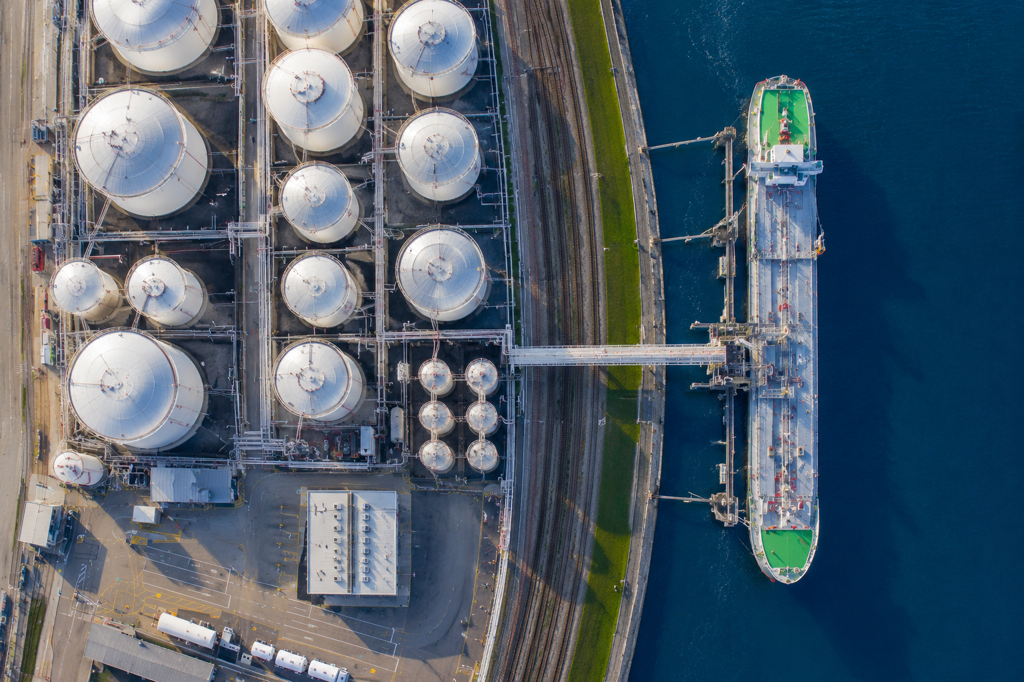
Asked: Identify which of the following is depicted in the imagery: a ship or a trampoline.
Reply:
ship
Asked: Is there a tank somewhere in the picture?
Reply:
Yes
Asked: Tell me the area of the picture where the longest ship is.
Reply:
right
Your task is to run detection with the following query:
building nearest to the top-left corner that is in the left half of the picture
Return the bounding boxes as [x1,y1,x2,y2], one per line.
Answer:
[28,155,57,201]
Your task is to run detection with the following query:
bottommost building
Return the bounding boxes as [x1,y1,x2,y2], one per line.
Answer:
[84,623,216,682]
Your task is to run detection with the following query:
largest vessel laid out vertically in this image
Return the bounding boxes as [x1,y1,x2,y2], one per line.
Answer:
[739,73,825,584]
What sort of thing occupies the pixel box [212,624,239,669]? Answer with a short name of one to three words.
truck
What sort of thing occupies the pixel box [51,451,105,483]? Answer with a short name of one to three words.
storage tank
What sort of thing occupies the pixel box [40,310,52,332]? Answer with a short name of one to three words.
vehicle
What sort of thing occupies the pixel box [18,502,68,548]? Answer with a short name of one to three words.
shed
